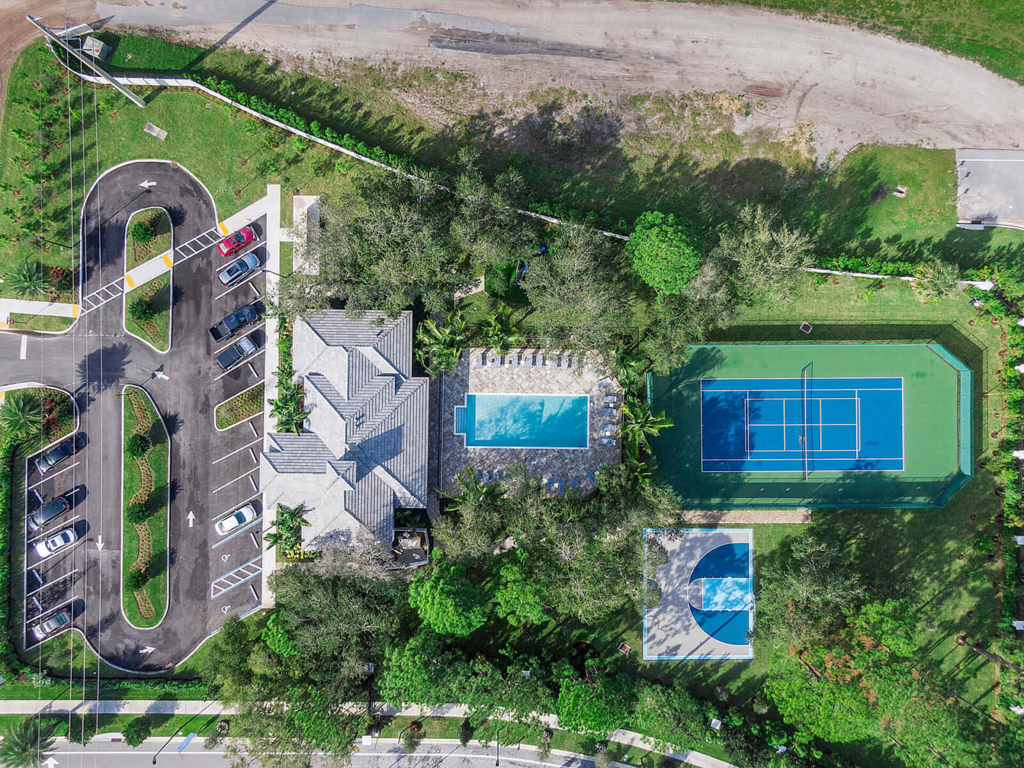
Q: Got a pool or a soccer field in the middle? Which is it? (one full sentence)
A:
The feature located in the middle is a pool.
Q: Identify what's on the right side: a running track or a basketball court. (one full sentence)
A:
Visible on the right side is a basketball court.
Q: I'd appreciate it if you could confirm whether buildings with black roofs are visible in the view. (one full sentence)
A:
No, no building with a black roof is visible in the scene.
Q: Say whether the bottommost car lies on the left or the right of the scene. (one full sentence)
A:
The bottommost car appears in the left half of the scene.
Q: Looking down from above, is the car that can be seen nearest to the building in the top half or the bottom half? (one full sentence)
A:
The bottom half of the photo is where the car that can be seen nearest to the building is.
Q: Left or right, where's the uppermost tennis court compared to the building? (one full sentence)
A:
Relative to the building, the uppermost tennis court lies to the right.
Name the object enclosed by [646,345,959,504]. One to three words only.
tennis court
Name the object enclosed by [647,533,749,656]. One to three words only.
basketball court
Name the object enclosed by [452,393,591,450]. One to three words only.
swimming pool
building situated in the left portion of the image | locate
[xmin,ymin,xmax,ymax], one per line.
[259,309,429,554]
